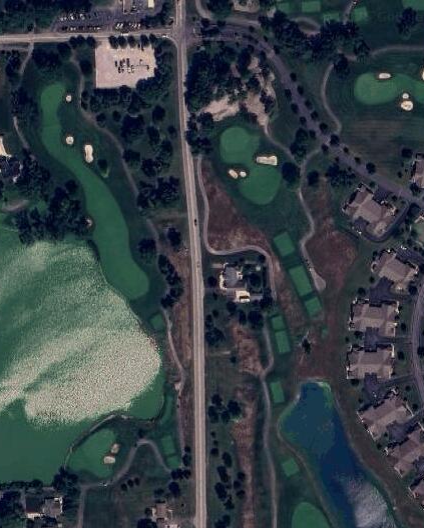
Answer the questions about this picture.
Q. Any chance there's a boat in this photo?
No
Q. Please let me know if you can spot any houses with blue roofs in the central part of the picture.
No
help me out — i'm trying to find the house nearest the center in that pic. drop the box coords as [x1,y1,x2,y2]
[223,265,242,288]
